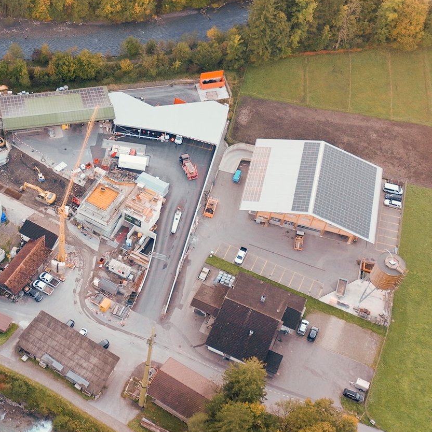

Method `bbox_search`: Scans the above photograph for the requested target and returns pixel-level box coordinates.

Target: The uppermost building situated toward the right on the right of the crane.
[240,137,381,249]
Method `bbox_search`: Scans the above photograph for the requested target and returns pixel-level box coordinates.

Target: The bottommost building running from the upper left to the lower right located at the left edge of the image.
[18,311,120,397]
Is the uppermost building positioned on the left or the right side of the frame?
left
